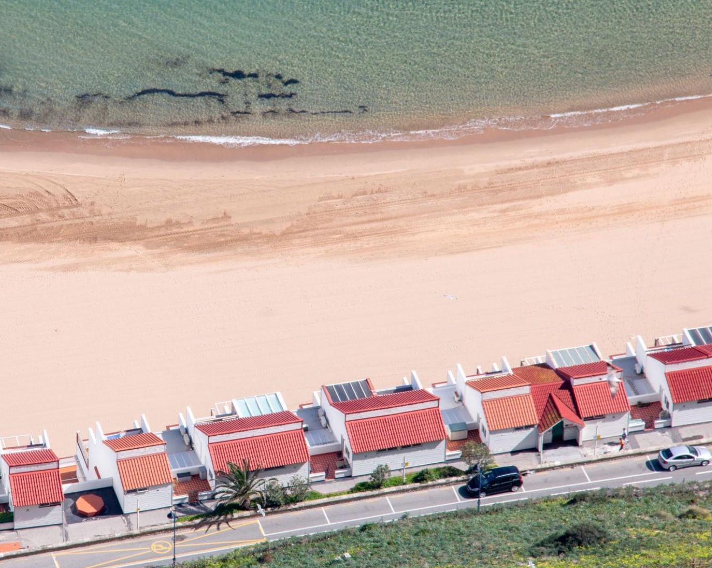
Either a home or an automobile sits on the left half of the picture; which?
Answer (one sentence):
What appears on the left half of the picture is a home.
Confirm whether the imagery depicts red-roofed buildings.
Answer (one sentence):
Yes, this view includes a red-roofed building.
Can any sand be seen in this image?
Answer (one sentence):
Yes, some sand is visible.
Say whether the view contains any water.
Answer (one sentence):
Yes, some water is visible.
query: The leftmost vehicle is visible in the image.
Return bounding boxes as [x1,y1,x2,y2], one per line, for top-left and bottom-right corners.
[471,464,523,497]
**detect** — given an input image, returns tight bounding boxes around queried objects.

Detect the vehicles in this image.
[471,464,523,497]
[659,445,712,471]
